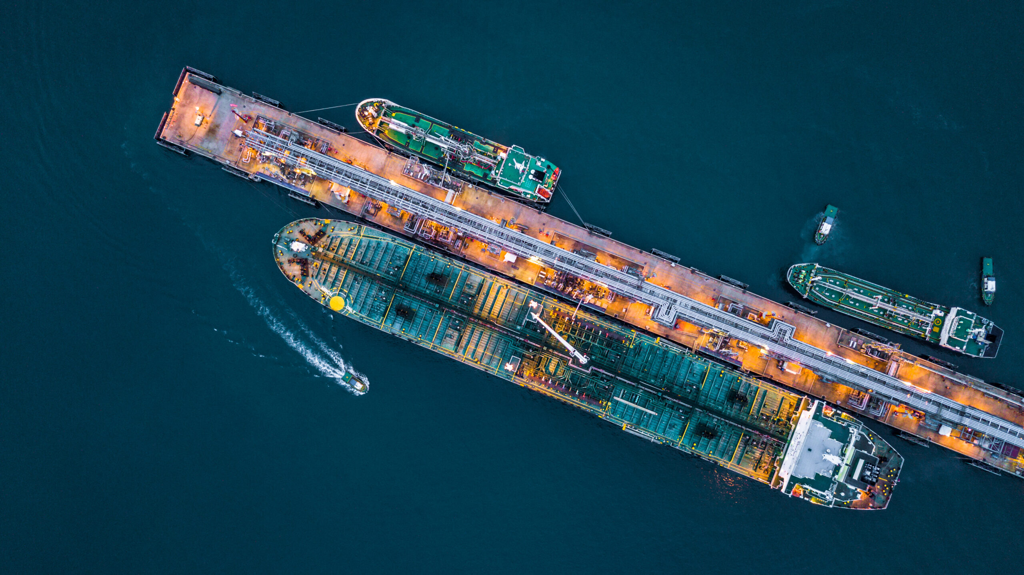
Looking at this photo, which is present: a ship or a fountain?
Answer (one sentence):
There is a ship in the scene.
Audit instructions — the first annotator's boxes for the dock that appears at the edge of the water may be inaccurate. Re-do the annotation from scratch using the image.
[153,65,1024,478]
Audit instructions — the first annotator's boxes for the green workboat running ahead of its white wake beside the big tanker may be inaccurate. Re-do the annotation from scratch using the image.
[341,371,368,393]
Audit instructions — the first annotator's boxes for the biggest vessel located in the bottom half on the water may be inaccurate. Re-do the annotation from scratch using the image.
[272,217,904,510]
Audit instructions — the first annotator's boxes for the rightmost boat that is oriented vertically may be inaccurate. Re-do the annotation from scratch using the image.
[980,257,994,305]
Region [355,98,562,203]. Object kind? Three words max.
ship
